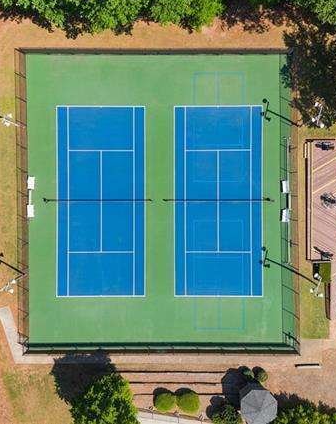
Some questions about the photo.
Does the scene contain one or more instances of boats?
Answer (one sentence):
No, there's no boat here.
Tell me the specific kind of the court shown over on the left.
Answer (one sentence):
Looking closely, the court shown over on the left is a tennis court.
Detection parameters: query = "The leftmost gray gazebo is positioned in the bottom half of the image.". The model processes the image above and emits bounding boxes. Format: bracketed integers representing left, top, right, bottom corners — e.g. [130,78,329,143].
[238,382,276,424]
